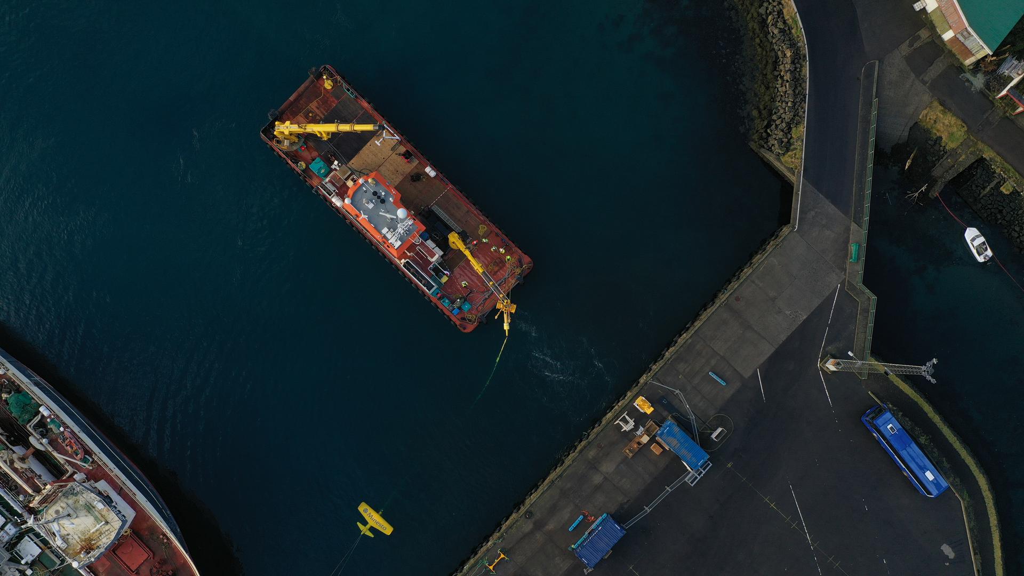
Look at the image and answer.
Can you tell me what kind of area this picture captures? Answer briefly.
port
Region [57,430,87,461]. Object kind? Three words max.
boat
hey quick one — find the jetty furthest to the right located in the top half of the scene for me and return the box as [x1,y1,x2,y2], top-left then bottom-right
[923,137,980,202]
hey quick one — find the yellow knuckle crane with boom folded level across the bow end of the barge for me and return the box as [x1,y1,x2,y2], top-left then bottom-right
[271,119,386,151]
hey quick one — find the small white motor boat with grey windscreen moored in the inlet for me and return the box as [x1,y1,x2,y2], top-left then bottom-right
[966,227,991,262]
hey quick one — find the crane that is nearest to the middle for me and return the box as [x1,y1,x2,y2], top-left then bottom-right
[445,232,517,335]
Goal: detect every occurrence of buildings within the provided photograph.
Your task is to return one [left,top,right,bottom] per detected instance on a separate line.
[988,68,1024,116]
[925,0,1024,66]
